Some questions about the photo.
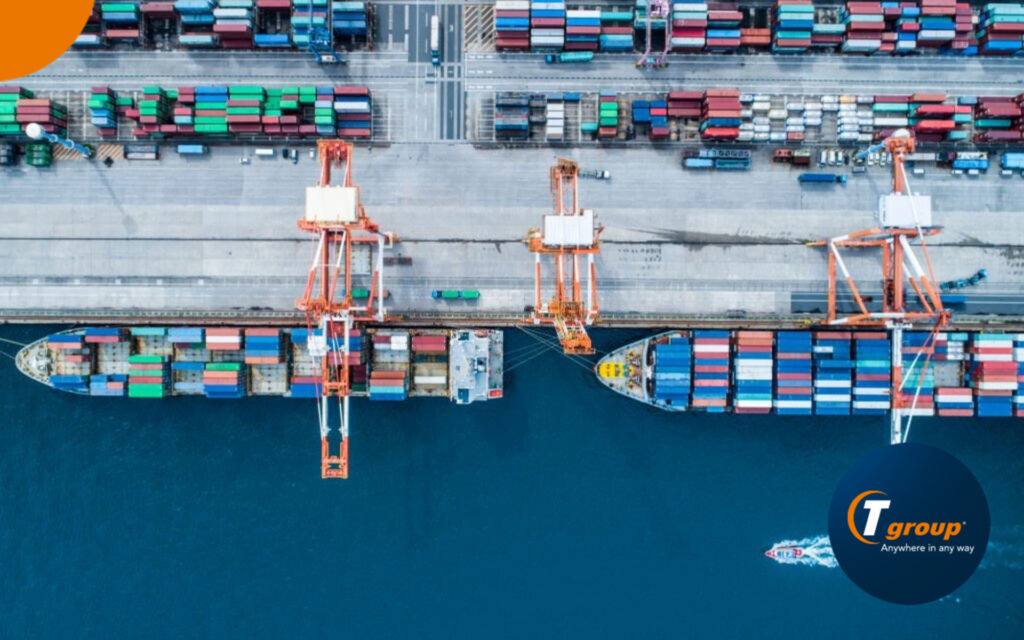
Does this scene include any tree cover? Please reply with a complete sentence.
No, the scene doesn't show any tree cover.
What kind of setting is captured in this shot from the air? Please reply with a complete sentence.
This looks like a port.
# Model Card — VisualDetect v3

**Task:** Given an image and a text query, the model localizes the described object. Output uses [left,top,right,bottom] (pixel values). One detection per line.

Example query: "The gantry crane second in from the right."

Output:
[638,0,672,68]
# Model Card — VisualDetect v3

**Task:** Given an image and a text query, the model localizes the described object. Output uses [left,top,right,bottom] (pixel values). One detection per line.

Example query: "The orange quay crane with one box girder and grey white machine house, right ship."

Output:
[805,138,959,484]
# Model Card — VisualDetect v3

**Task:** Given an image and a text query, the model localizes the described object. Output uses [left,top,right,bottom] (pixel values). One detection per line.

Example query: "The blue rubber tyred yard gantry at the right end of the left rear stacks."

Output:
[311,0,350,62]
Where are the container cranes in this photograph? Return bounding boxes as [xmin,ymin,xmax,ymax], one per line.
[311,0,350,62]
[805,138,959,484]
[638,0,672,68]
[285,138,400,478]
[520,156,608,353]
